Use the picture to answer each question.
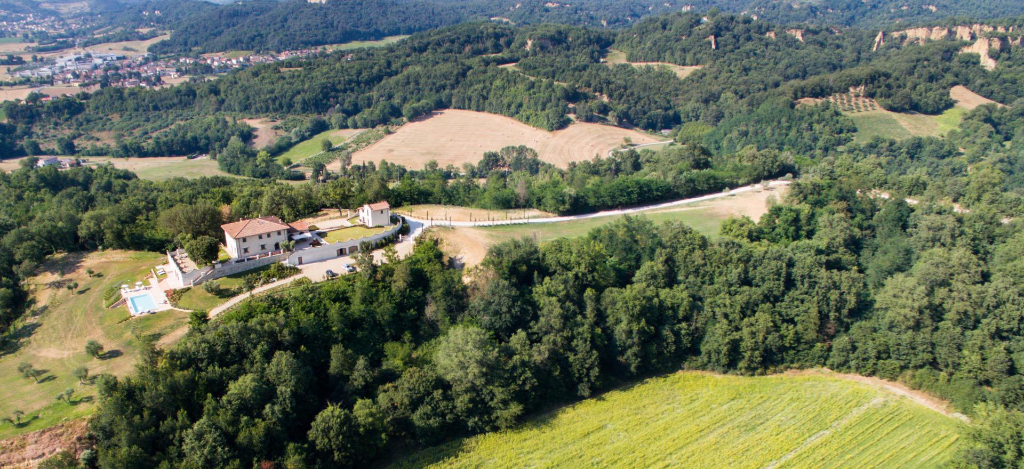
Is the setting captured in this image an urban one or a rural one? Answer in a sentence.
The area shown here is rural.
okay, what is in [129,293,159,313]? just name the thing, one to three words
swimming pool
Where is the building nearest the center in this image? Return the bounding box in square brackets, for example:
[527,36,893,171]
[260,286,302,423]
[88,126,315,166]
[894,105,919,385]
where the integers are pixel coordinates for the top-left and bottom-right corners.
[360,203,388,227]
